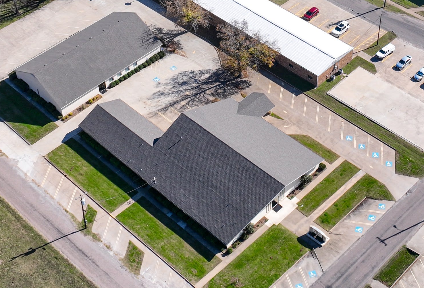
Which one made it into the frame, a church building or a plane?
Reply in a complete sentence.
Of the two, only a church building appears.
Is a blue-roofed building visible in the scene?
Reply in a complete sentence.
No, this view has no blue-roofed building in it.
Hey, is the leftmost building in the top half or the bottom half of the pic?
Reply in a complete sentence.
It is in the top half that the leftmost building appears.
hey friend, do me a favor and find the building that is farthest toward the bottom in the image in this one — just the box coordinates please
[76,96,323,248]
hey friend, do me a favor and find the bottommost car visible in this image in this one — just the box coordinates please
[412,66,424,82]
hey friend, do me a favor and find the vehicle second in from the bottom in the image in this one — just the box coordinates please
[395,55,413,70]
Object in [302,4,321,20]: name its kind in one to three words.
car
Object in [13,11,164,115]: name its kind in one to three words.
building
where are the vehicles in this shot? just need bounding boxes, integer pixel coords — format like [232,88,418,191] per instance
[412,66,424,82]
[331,19,350,36]
[375,42,397,60]
[302,4,321,20]
[395,55,413,70]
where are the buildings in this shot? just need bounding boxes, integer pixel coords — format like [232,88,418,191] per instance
[176,0,353,84]
[76,96,323,248]
[13,11,164,115]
